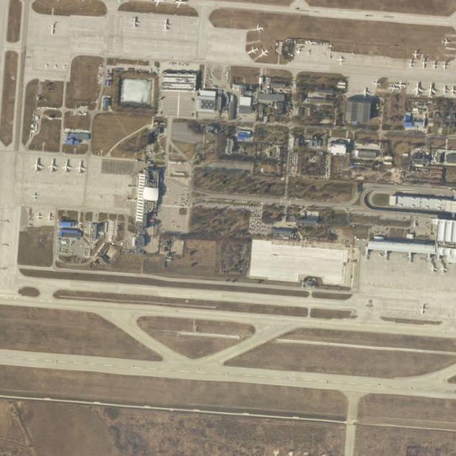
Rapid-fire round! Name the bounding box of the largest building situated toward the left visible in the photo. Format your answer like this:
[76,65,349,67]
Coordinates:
[131,168,158,222]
